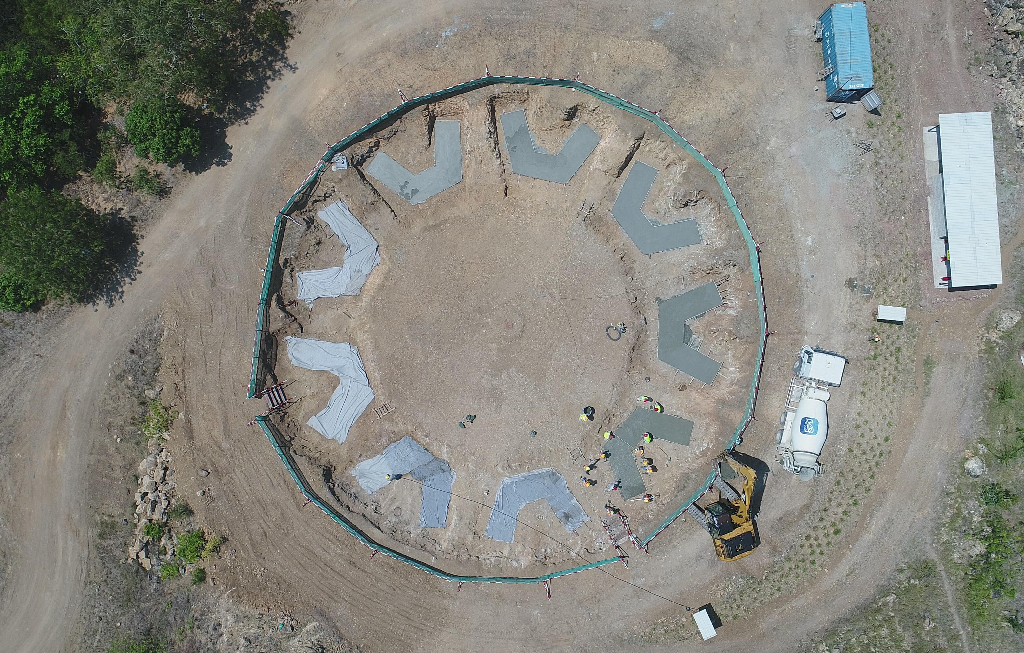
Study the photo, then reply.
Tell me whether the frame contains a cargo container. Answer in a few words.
Yes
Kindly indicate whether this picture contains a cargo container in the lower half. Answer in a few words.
No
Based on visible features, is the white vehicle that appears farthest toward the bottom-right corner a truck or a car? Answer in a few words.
truck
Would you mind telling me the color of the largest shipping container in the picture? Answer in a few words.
blue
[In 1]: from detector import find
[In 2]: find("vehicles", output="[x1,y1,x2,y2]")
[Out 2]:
[687,454,761,563]
[766,347,849,480]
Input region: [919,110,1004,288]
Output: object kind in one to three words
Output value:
shed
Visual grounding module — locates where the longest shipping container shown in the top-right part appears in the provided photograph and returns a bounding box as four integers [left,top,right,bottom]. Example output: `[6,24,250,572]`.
[817,1,881,108]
